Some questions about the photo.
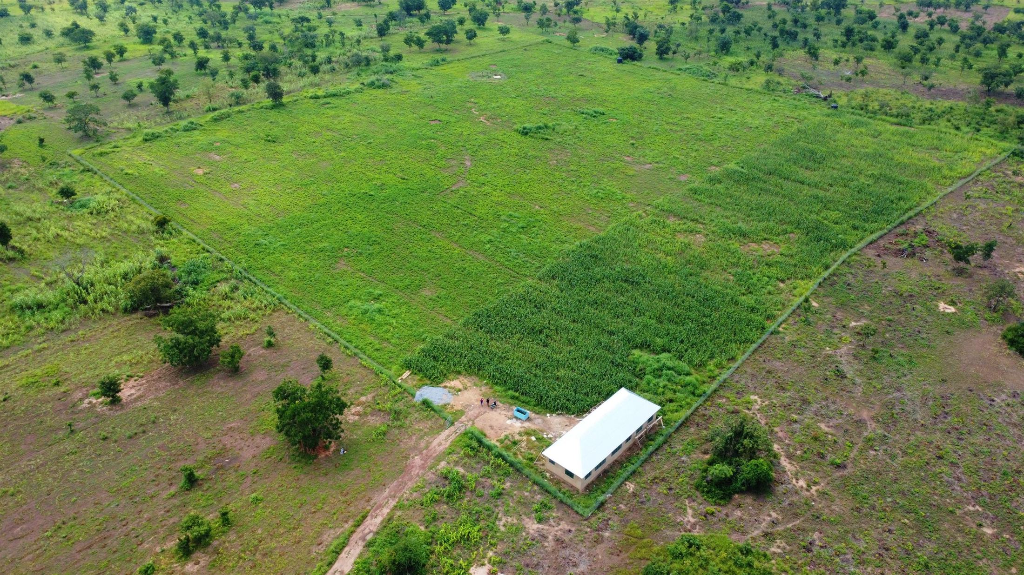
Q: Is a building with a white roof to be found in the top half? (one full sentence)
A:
No, in the top half there is no building with a white roof.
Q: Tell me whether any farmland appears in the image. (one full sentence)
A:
Yes, some farmland is visible.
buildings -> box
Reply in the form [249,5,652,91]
[543,388,661,492]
